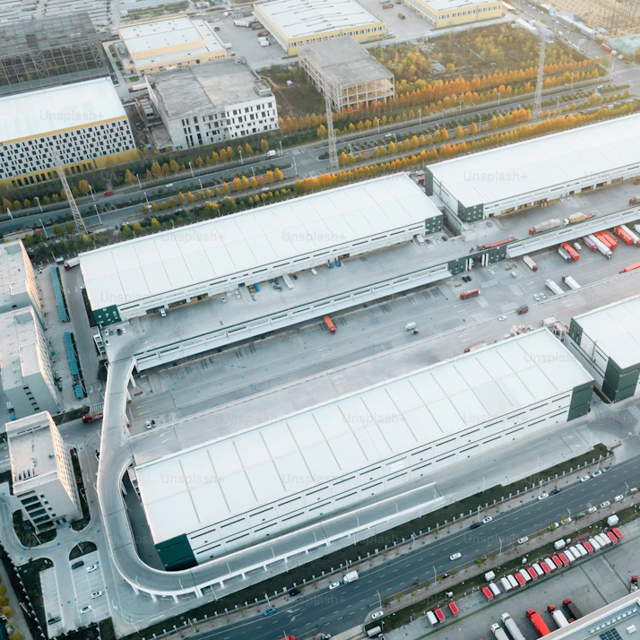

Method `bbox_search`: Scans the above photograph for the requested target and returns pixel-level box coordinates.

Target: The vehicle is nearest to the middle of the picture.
[322,315,337,335]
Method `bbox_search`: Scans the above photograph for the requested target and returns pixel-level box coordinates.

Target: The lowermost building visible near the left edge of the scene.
[2,404,82,536]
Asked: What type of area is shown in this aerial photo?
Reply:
industrial area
